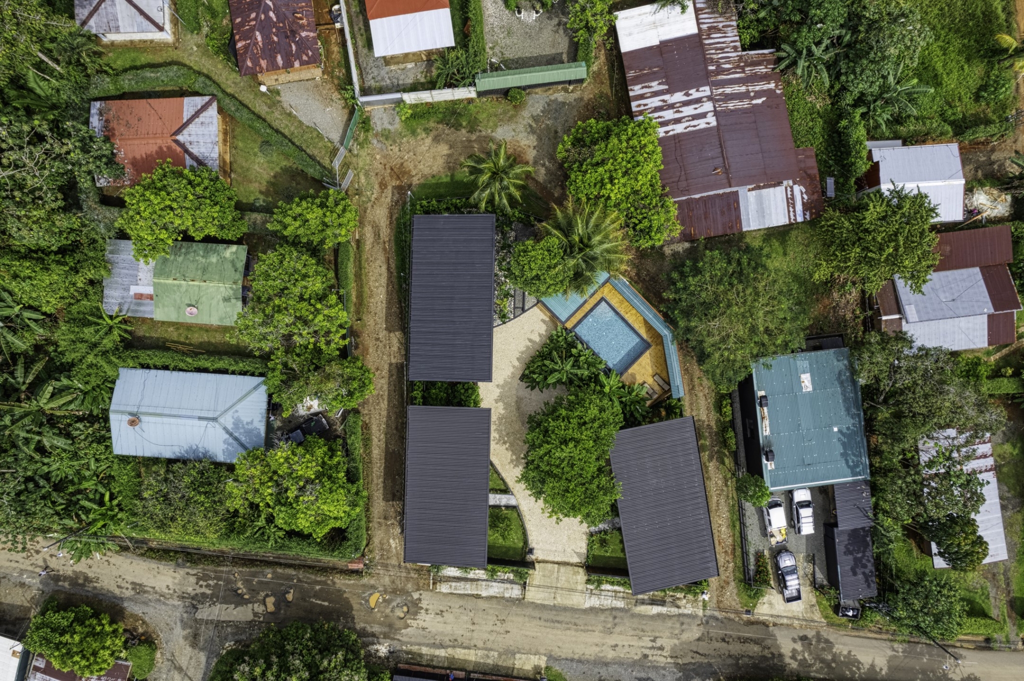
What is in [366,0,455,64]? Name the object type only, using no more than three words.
house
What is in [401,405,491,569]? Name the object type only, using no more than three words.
building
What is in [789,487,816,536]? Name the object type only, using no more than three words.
truck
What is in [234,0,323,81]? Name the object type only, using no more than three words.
house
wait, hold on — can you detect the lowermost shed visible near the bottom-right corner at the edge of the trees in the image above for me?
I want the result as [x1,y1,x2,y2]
[818,518,878,602]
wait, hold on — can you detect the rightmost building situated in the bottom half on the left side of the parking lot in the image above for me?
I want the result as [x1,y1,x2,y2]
[608,415,721,596]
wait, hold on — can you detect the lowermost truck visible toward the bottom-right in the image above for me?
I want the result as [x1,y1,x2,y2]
[773,547,803,605]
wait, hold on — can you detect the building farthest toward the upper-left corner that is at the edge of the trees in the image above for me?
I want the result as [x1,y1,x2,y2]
[75,0,173,41]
